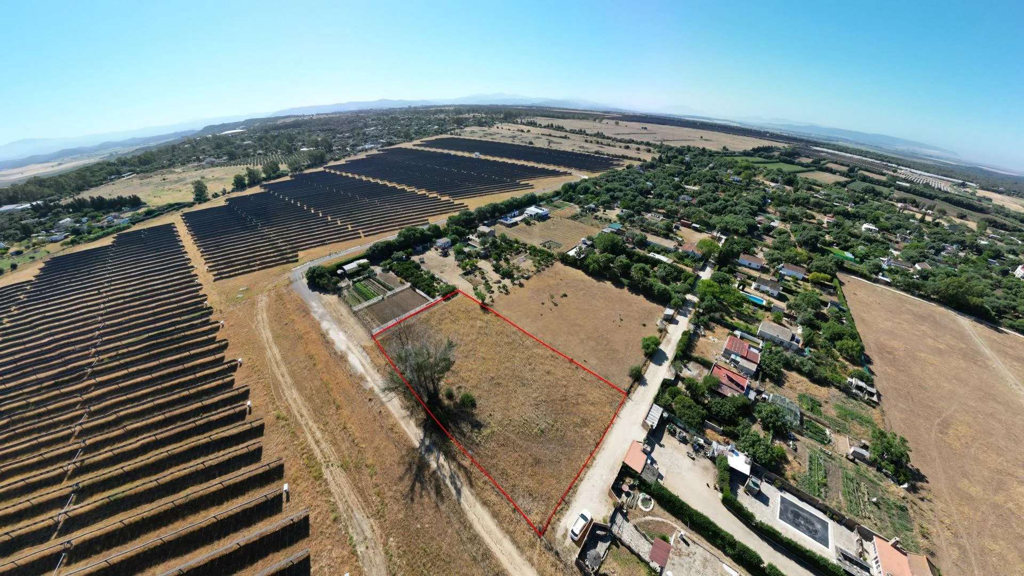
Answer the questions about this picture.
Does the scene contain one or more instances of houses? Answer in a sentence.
Yes, there's a house here.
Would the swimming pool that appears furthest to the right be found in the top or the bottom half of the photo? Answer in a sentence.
The swimming pool that appears furthest to the right sits in the bottom half of the picture.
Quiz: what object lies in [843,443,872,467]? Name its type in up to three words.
shed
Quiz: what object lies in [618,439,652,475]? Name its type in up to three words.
shed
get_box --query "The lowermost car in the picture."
[568,508,594,544]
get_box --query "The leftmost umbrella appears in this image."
[581,545,609,576]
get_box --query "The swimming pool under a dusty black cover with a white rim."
[777,491,832,553]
